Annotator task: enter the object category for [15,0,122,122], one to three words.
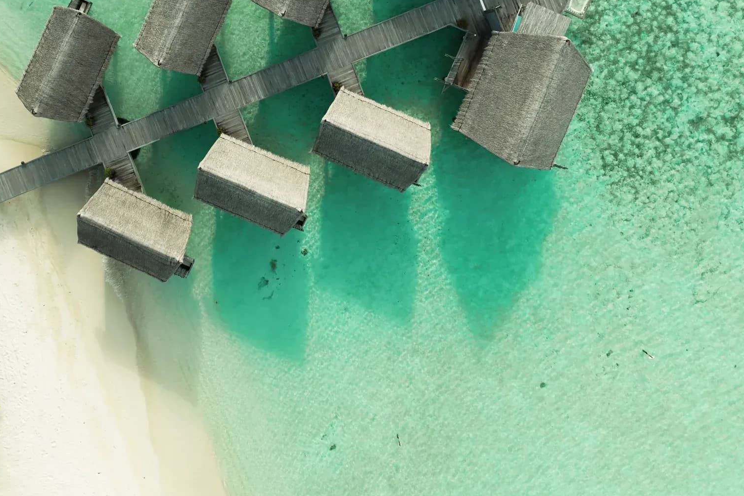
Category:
shed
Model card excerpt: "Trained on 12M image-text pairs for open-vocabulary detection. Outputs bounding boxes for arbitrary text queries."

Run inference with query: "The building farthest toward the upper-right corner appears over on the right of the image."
[438,31,593,169]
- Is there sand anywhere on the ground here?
Yes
